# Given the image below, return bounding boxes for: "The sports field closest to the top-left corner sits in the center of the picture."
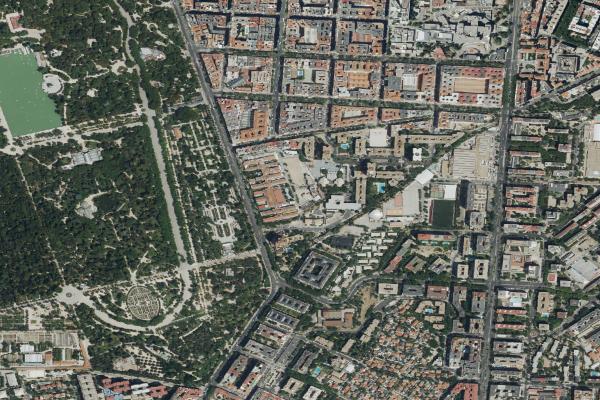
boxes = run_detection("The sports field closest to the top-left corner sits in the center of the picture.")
[285,154,307,200]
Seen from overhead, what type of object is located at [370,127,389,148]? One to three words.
building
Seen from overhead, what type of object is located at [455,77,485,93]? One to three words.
building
